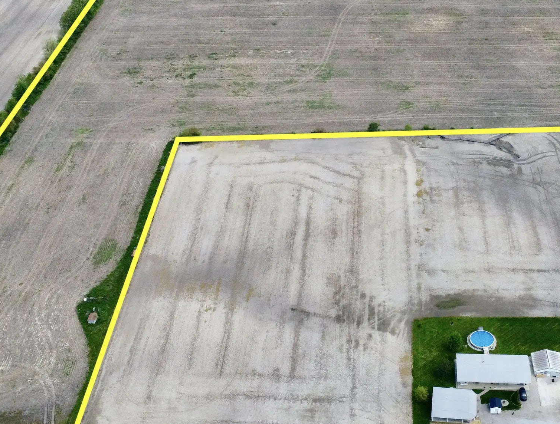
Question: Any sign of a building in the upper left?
No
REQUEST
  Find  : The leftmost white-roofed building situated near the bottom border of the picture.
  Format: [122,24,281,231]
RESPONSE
[432,387,477,424]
